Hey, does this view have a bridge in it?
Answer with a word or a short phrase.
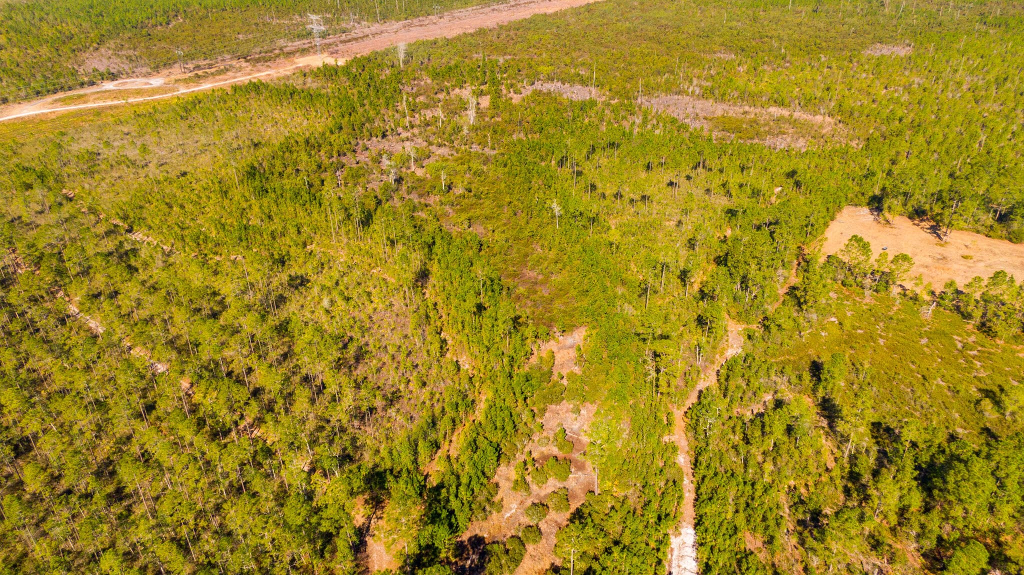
No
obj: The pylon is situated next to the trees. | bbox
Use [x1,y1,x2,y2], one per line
[306,15,324,59]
